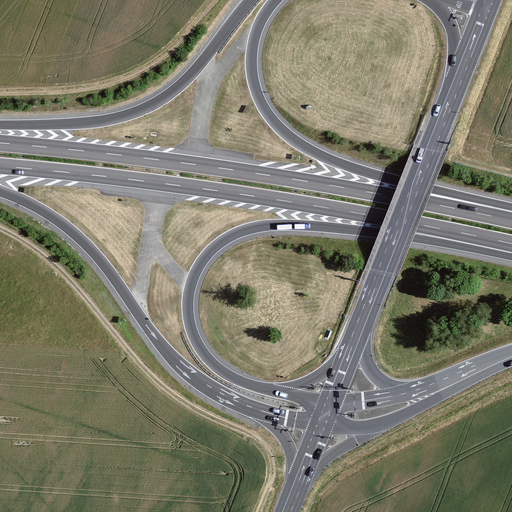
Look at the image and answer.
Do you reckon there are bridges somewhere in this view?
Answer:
Yes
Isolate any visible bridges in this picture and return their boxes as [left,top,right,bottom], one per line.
[364,144,447,274]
